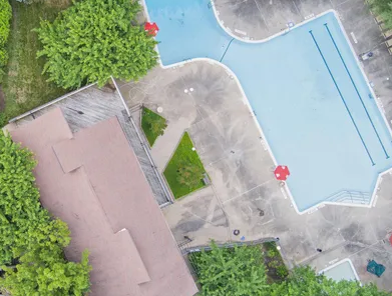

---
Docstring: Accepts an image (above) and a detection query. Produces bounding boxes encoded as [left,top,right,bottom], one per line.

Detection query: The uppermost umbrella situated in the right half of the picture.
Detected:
[269,165,288,180]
